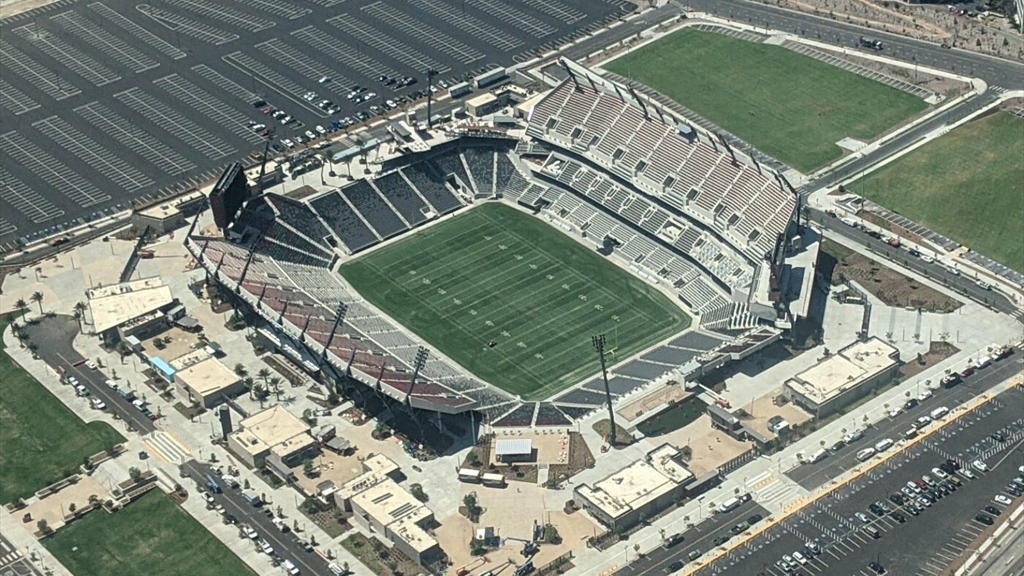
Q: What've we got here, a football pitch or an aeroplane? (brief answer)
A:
football pitch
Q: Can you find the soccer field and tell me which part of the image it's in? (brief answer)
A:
center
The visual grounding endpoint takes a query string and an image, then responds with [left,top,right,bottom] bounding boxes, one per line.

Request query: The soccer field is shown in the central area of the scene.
[340,202,692,402]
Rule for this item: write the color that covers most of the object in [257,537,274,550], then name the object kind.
white vehicle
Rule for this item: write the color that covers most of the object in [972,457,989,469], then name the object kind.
white vehicle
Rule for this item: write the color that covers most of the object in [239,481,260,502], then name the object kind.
white truck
